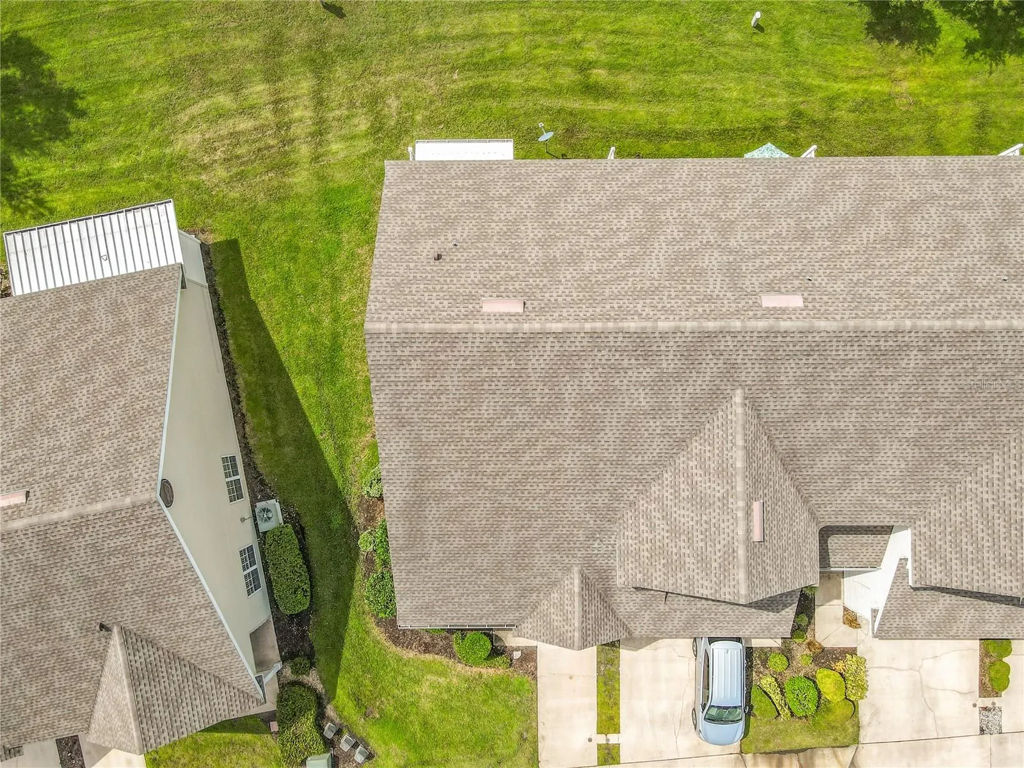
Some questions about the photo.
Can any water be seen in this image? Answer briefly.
No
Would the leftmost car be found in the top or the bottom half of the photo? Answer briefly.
bottom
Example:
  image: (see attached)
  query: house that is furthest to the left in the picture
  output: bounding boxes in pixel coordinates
[0,197,287,760]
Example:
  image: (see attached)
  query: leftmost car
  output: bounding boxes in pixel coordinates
[692,637,752,748]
